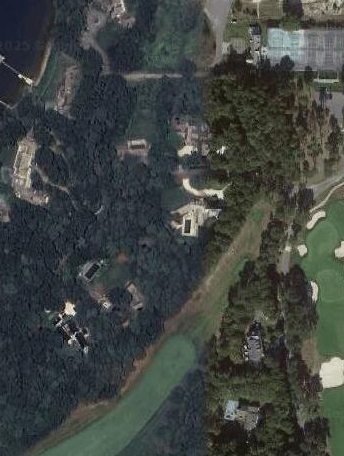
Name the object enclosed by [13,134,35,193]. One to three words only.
house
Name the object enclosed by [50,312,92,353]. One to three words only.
house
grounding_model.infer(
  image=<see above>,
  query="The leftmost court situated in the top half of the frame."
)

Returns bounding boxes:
[267,28,285,70]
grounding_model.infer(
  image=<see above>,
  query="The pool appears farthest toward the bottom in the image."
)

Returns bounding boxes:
[224,401,237,420]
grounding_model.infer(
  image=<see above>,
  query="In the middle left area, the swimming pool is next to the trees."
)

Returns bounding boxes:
[81,260,104,283]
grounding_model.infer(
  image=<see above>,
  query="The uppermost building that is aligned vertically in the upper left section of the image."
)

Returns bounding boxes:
[57,66,77,111]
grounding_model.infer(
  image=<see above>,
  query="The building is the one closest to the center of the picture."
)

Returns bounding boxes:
[193,199,221,217]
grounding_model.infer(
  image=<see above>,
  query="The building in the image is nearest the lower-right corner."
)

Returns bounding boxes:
[235,405,258,428]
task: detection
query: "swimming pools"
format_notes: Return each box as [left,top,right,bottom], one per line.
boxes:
[182,210,197,236]
[81,260,104,283]
[224,401,237,420]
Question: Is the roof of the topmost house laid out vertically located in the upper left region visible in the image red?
No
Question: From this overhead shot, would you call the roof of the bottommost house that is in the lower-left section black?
Yes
